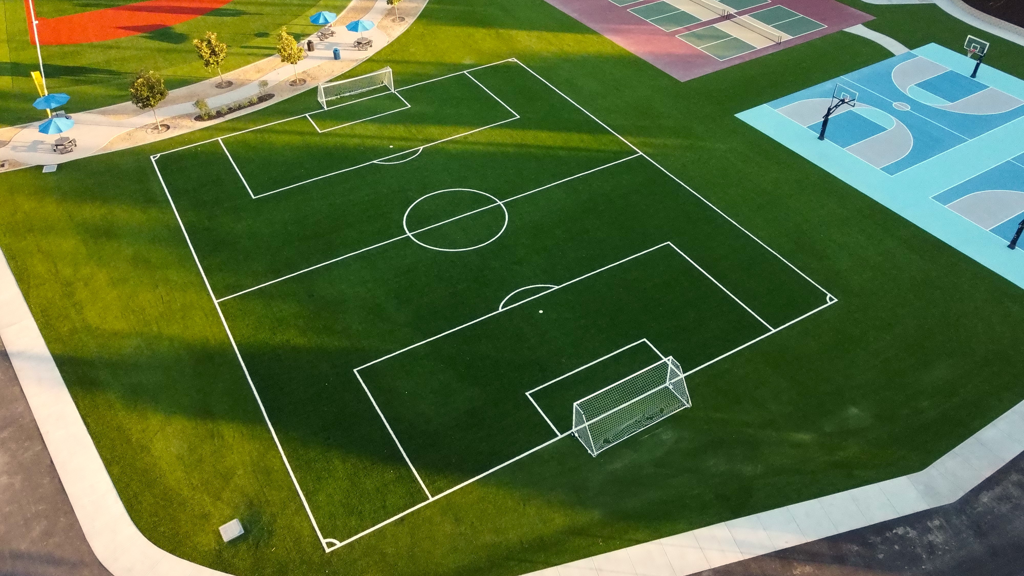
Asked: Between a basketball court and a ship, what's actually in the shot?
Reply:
basketball court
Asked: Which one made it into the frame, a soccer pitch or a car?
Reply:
soccer pitch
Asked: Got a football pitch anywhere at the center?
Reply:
Yes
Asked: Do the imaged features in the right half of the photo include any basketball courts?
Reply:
Yes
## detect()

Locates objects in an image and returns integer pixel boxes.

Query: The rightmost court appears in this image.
[927,150,1024,252]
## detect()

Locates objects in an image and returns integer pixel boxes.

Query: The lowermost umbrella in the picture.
[35,117,73,139]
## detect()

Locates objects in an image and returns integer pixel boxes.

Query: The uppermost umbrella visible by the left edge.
[31,91,68,117]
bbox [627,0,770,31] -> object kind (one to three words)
sports court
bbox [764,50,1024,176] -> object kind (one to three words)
basketball court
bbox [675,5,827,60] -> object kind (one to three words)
sports court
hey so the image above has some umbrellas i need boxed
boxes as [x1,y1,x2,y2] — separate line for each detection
[31,91,68,117]
[307,11,335,27]
[347,18,375,36]
[35,117,73,139]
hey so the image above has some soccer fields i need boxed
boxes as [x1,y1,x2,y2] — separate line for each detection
[153,59,835,550]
